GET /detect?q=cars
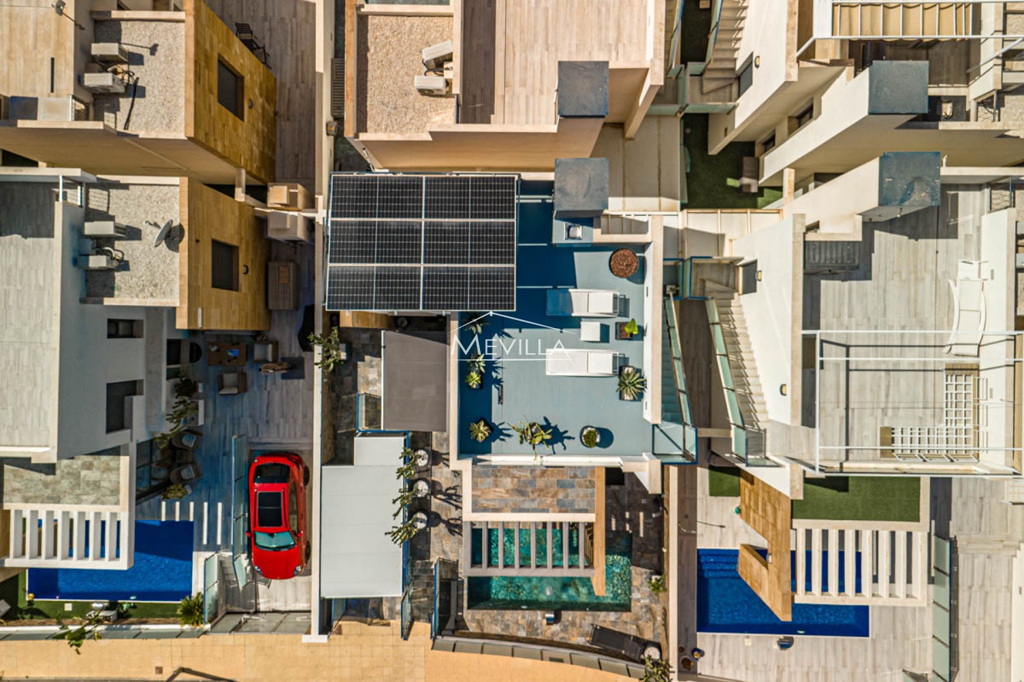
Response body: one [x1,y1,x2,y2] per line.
[244,451,309,578]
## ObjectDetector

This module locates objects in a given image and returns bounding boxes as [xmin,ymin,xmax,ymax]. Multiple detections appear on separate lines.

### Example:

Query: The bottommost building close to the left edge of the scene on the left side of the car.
[0,168,270,569]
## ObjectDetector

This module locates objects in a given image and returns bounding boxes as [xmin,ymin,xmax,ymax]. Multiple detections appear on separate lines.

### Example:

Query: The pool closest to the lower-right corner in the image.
[698,550,869,637]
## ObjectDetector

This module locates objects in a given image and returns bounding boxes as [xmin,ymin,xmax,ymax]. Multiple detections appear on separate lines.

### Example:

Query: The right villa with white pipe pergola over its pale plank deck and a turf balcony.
[683,151,1024,621]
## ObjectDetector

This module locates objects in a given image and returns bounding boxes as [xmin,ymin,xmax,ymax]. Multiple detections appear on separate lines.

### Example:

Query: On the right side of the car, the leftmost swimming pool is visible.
[468,529,631,604]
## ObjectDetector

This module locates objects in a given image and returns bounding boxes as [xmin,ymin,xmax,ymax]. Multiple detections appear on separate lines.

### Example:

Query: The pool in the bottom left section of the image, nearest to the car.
[27,519,191,602]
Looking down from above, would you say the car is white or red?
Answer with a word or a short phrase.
red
